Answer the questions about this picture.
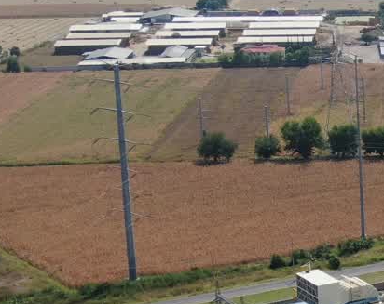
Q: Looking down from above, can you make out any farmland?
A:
Yes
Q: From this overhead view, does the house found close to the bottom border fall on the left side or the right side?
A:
right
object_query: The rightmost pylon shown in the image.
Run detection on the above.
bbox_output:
[350,97,364,134]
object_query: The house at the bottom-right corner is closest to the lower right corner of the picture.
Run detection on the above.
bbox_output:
[296,268,380,304]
